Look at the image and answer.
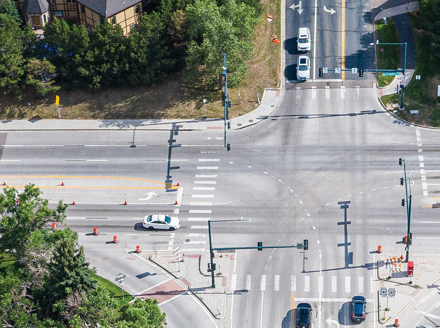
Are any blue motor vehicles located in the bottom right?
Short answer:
Yes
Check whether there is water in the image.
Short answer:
No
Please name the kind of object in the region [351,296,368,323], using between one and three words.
car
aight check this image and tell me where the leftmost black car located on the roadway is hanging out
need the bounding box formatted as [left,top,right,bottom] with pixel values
[295,303,314,328]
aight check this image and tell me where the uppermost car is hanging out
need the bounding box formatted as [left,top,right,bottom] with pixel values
[297,29,311,51]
